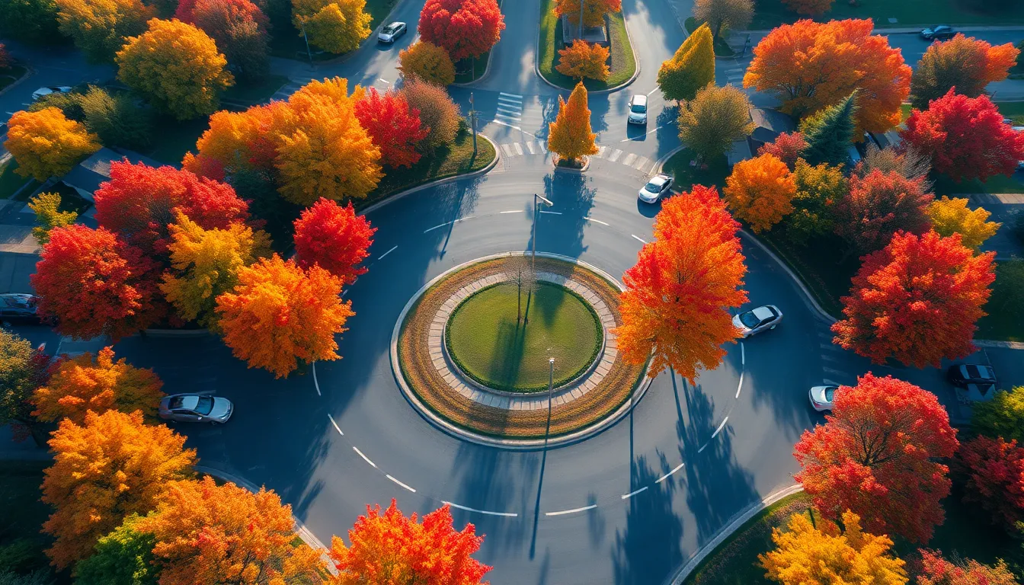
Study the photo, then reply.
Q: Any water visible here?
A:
No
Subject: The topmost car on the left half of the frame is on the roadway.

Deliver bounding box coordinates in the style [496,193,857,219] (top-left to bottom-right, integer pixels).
[378,22,406,44]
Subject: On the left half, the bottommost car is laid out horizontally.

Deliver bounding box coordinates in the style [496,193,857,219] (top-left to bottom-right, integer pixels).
[156,392,236,427]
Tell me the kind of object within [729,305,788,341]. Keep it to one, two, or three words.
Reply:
car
